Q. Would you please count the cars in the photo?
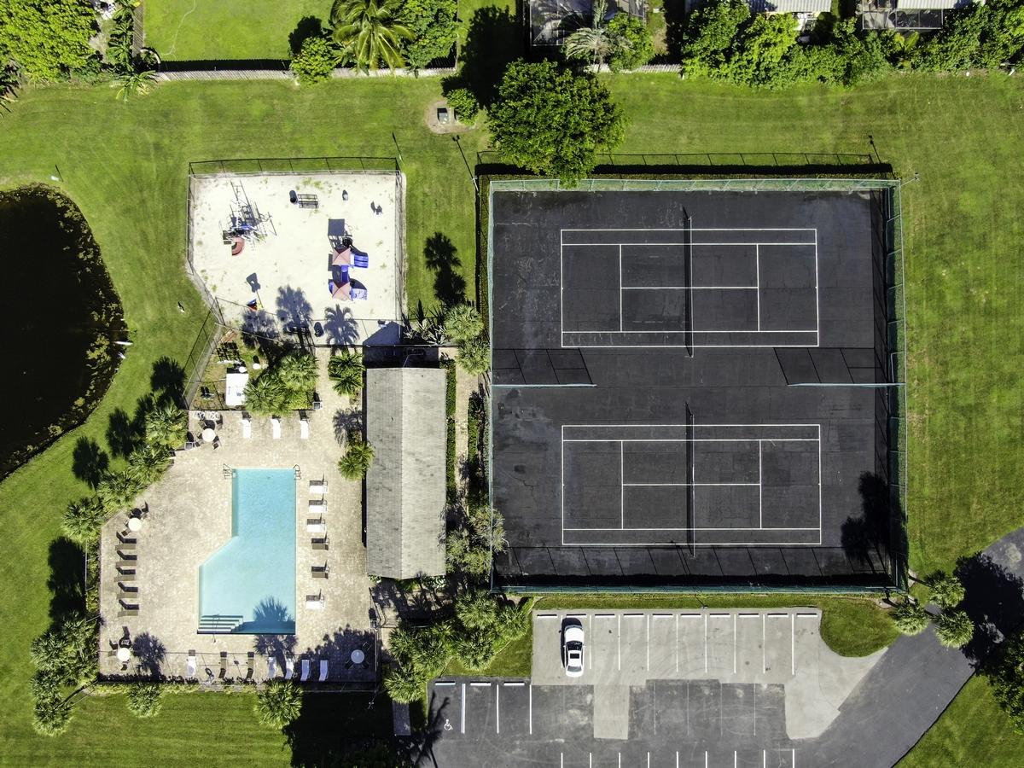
1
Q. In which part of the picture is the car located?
bottom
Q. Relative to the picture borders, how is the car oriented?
vertically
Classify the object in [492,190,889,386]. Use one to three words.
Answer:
tennis court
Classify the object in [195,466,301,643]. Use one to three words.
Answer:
swimming pool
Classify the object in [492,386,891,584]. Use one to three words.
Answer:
tennis court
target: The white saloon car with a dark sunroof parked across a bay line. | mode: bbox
[561,626,586,678]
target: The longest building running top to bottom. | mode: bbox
[365,367,448,582]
